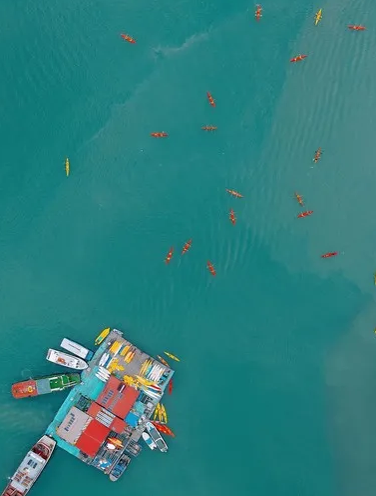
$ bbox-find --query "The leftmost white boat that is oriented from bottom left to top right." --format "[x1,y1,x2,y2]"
[0,436,53,496]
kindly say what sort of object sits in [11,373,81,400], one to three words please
boat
